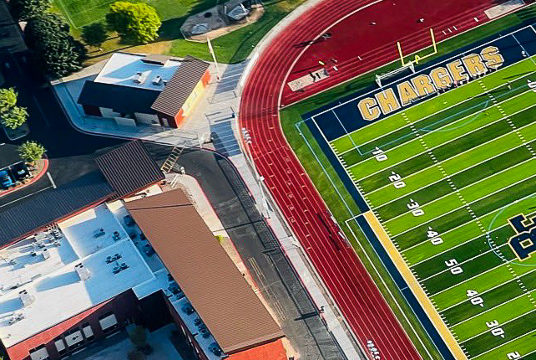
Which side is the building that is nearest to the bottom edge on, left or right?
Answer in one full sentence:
The building that is nearest to the bottom edge is on the left side of the image.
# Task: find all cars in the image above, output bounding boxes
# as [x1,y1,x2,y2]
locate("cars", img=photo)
[0,166,10,186]
[14,163,27,181]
